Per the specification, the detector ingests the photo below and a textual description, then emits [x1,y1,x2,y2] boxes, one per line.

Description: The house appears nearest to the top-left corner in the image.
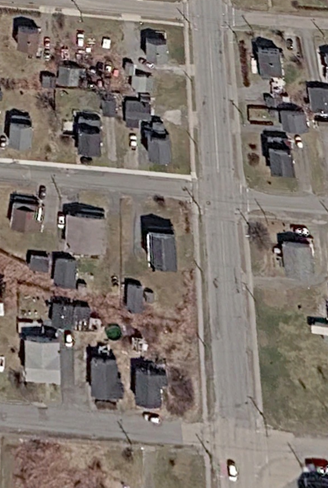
[17,25,41,58]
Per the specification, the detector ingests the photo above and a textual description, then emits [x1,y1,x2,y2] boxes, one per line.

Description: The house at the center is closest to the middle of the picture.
[147,227,177,272]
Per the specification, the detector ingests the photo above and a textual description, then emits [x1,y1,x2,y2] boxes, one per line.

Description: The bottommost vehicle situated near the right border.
[306,463,328,476]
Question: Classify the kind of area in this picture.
residential area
